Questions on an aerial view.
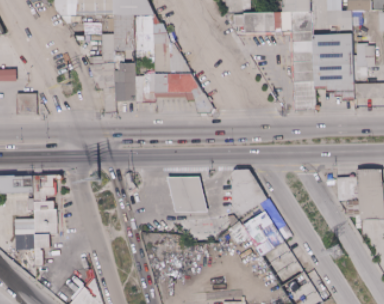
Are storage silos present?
No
